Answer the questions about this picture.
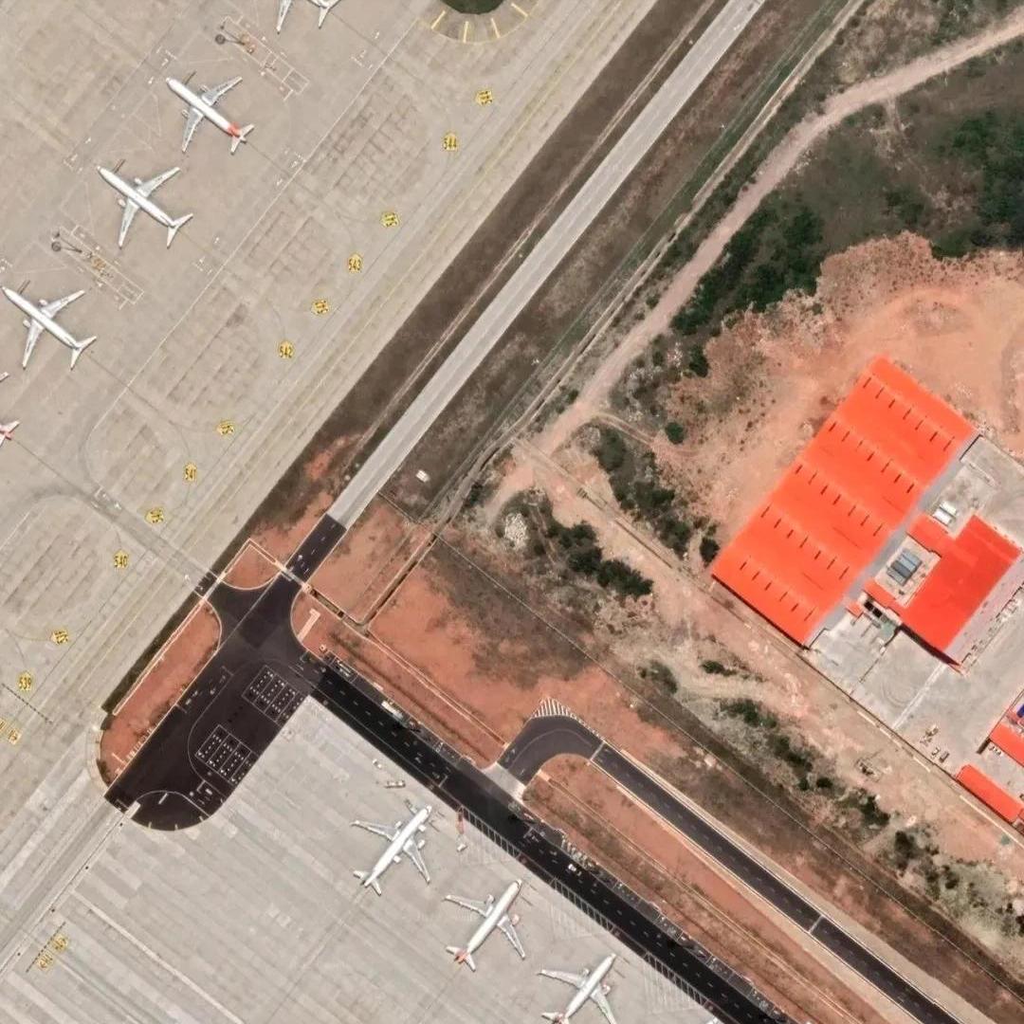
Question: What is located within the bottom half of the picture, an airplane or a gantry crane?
airplane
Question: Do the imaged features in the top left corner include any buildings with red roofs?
No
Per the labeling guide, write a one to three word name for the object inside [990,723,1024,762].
building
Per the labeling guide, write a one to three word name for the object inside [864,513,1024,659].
building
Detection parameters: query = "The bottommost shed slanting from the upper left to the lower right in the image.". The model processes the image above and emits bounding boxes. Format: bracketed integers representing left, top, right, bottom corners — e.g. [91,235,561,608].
[956,765,1024,824]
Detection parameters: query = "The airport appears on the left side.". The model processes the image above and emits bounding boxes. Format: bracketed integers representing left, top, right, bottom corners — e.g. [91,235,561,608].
[0,0,730,1024]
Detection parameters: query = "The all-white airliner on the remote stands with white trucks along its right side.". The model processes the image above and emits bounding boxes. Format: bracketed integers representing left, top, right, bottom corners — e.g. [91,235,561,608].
[350,807,431,894]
